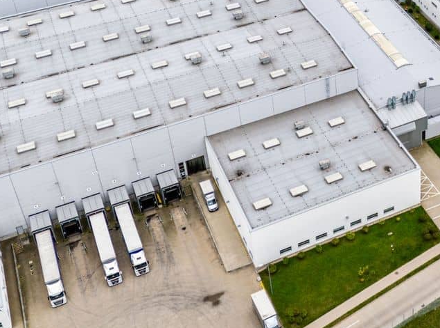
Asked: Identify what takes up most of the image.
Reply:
buildings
